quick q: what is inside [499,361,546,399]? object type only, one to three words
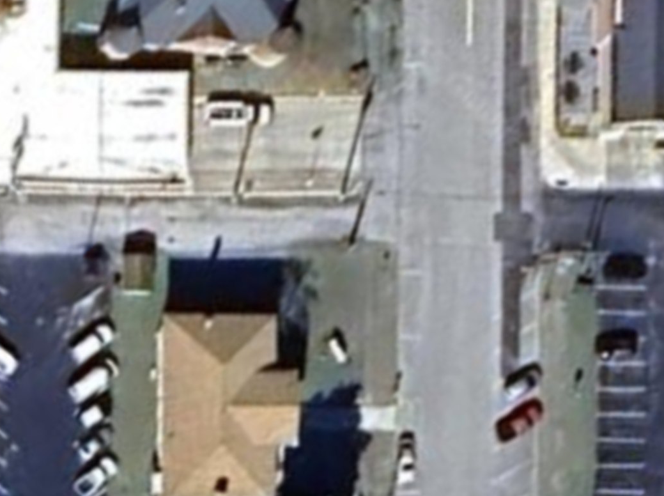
car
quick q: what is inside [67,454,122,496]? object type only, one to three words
truck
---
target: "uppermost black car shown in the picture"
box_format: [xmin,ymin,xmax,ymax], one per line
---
[601,255,649,279]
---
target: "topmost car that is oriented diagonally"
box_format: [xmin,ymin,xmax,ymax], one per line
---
[67,318,119,360]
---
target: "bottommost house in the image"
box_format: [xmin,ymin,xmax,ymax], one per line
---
[148,312,300,496]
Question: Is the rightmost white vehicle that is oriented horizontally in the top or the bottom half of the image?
top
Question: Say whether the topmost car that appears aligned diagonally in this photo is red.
No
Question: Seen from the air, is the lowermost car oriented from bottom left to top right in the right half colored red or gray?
red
